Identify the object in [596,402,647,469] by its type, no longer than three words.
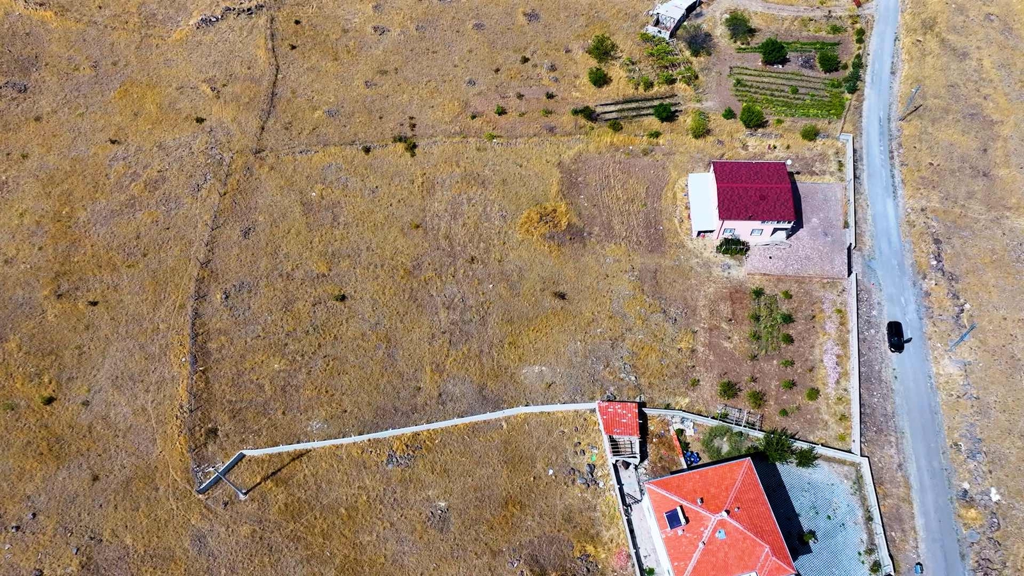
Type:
shed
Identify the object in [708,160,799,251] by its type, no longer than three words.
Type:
house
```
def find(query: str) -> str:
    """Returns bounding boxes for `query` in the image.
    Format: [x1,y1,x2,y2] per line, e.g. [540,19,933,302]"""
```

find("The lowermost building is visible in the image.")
[644,456,803,576]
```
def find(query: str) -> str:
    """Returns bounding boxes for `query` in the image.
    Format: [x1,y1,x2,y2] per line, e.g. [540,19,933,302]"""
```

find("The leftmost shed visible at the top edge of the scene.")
[642,0,698,47]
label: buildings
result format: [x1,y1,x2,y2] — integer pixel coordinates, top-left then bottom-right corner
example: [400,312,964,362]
[596,402,647,469]
[708,160,799,251]
[642,0,698,47]
[644,456,803,576]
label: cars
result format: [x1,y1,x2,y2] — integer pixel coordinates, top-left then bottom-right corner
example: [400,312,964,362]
[884,322,911,355]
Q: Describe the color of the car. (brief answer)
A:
black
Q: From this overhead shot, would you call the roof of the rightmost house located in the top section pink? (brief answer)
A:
Yes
